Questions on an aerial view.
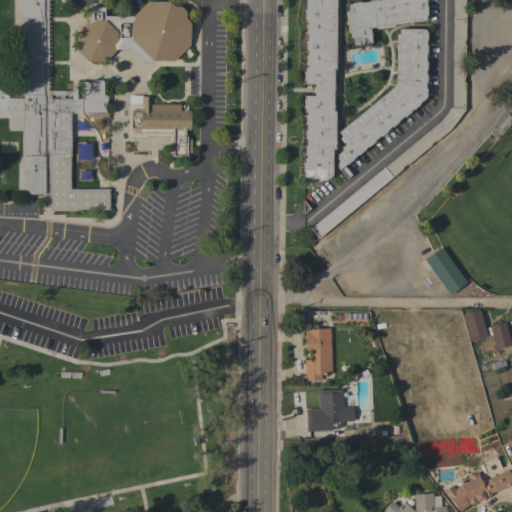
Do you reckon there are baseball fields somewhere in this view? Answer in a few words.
Yes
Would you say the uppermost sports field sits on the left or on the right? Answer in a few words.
right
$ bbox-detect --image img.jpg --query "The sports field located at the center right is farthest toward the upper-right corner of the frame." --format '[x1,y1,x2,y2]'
[434,128,512,296]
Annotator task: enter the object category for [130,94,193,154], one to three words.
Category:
building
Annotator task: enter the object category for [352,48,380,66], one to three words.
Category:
swimming pool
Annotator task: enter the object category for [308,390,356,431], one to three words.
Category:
house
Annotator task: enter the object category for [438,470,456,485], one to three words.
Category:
swimming pool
